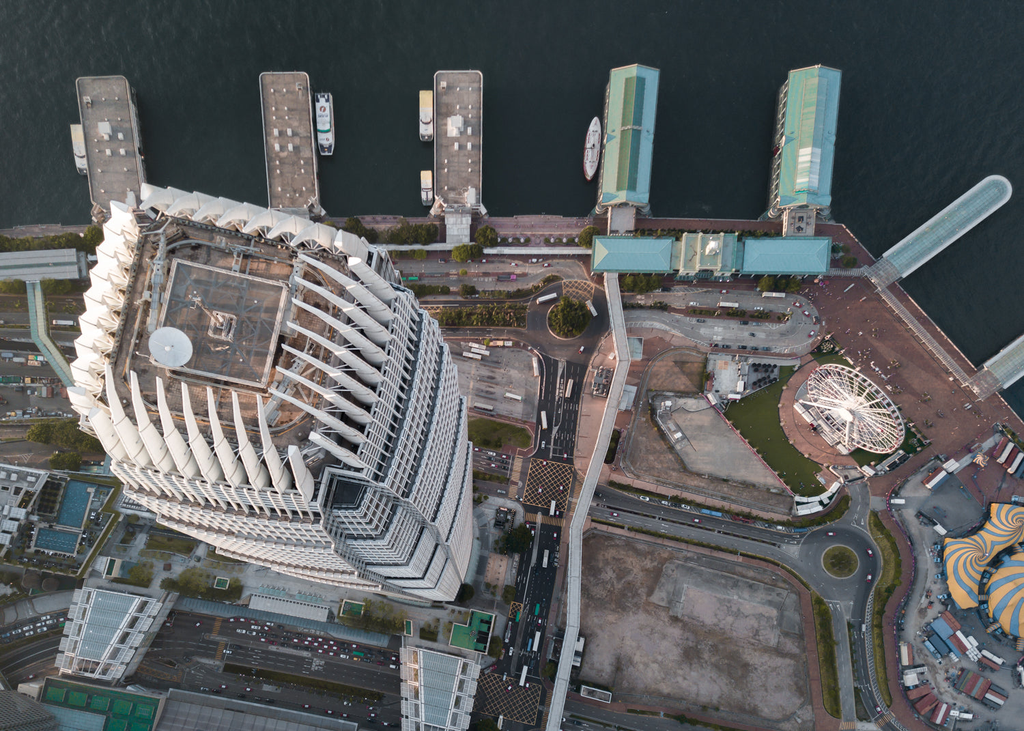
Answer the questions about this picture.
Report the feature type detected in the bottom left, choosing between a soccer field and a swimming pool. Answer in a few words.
swimming pool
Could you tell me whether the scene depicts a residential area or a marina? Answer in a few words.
marina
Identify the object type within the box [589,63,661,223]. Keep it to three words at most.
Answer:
pier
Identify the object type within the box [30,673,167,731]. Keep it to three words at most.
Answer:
building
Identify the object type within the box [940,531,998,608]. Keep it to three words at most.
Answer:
tent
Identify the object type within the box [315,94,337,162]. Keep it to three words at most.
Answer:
vessel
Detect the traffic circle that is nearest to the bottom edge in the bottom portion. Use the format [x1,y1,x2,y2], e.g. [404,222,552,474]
[821,543,858,579]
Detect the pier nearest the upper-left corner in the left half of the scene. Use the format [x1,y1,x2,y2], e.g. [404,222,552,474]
[77,75,151,227]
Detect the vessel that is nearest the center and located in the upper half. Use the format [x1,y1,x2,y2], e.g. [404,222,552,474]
[421,170,434,212]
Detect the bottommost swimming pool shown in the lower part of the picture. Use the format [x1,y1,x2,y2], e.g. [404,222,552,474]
[32,527,82,555]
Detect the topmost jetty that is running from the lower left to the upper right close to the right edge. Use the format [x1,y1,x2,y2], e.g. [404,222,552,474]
[875,175,1013,284]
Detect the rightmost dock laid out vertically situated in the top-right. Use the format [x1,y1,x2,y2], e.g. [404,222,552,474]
[761,64,842,226]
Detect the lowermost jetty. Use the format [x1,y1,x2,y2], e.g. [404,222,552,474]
[974,338,1024,398]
